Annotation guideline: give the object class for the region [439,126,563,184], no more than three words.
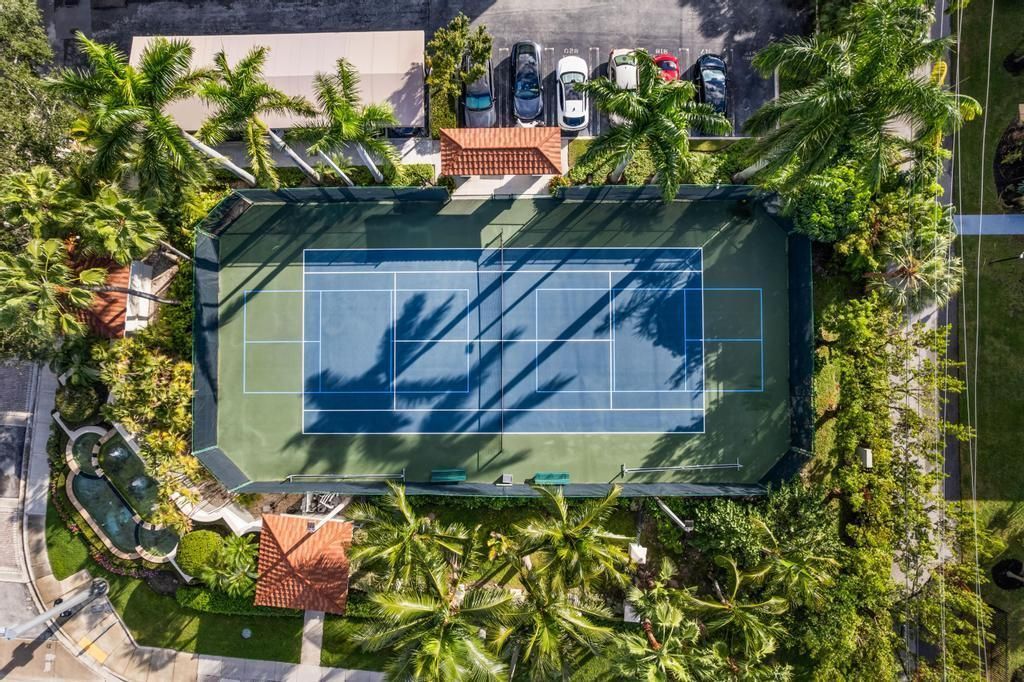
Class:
building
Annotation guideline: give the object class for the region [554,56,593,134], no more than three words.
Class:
car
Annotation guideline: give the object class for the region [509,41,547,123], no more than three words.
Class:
car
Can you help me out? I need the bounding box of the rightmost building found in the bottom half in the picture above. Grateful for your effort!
[252,505,362,615]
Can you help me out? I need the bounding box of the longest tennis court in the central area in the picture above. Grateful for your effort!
[217,202,792,484]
